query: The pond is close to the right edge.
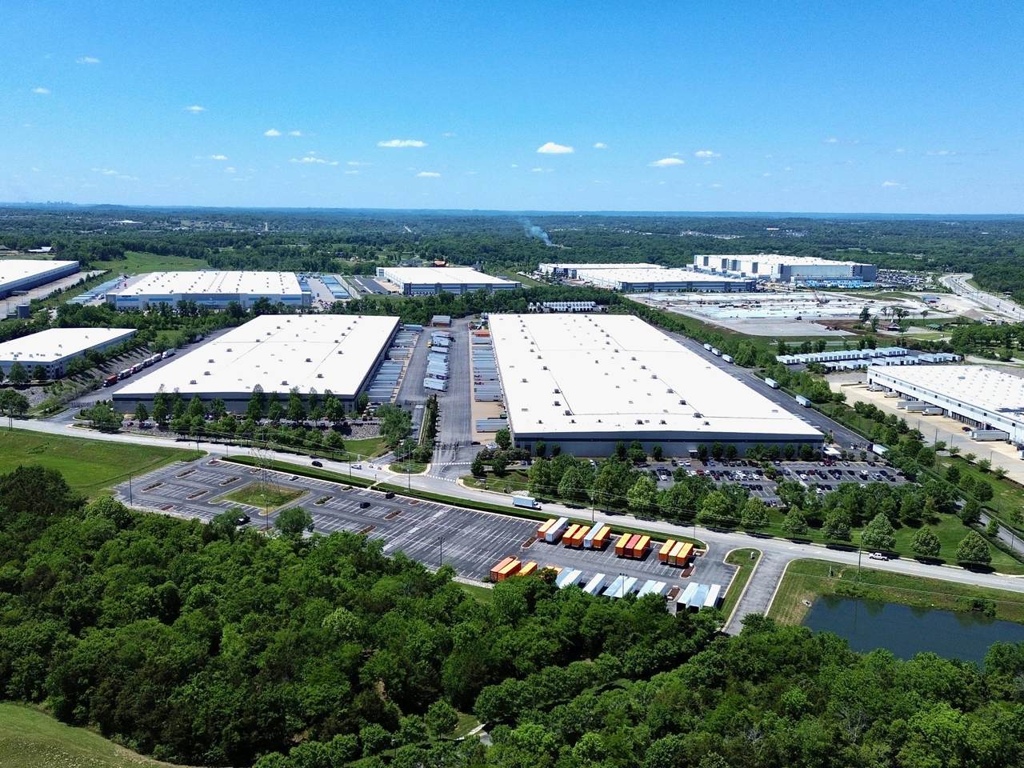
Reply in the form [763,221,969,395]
[805,593,1024,679]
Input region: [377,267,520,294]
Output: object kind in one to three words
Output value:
building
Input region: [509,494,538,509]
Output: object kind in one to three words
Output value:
vehicle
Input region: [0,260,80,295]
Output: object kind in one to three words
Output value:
building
